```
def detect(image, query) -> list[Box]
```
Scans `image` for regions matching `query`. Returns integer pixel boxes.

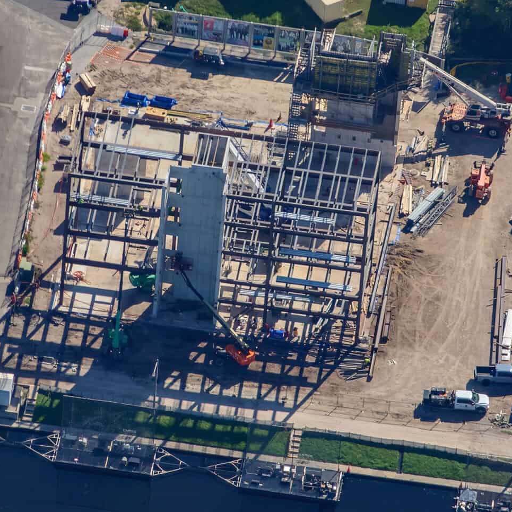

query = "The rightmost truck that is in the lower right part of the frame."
[475,361,512,383]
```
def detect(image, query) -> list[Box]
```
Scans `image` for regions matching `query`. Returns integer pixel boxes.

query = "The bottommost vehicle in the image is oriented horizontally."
[425,388,490,418]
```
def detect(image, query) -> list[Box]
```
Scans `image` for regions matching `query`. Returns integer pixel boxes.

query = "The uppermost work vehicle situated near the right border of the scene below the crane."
[468,162,493,200]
